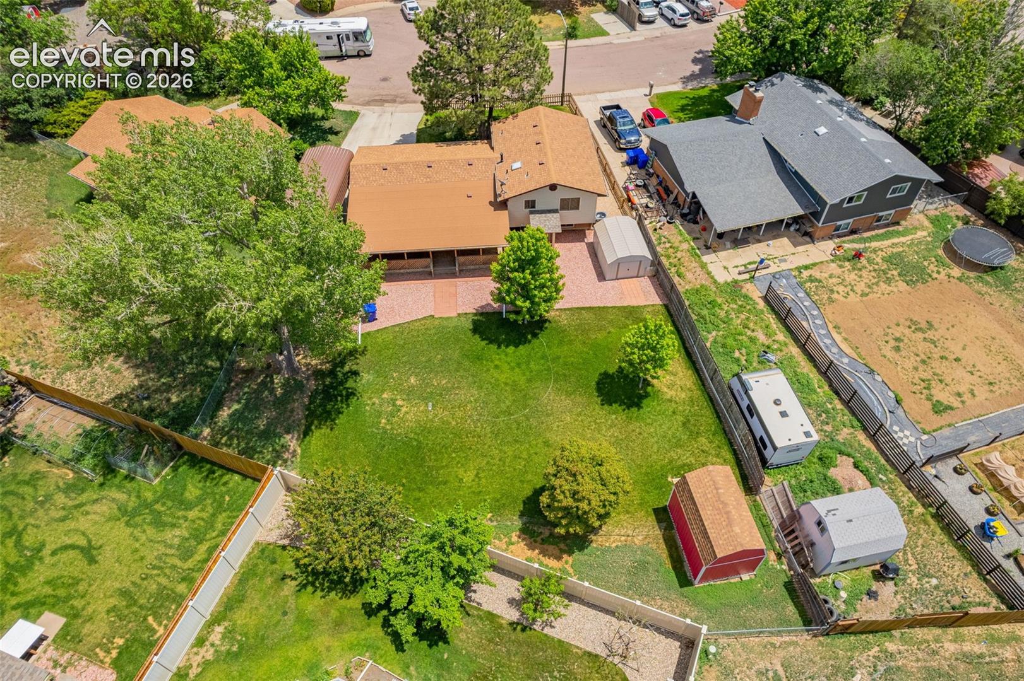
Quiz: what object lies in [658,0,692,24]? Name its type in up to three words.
car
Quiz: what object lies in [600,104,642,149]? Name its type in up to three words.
truck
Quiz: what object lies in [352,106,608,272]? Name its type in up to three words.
house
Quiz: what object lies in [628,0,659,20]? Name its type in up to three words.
vehicle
